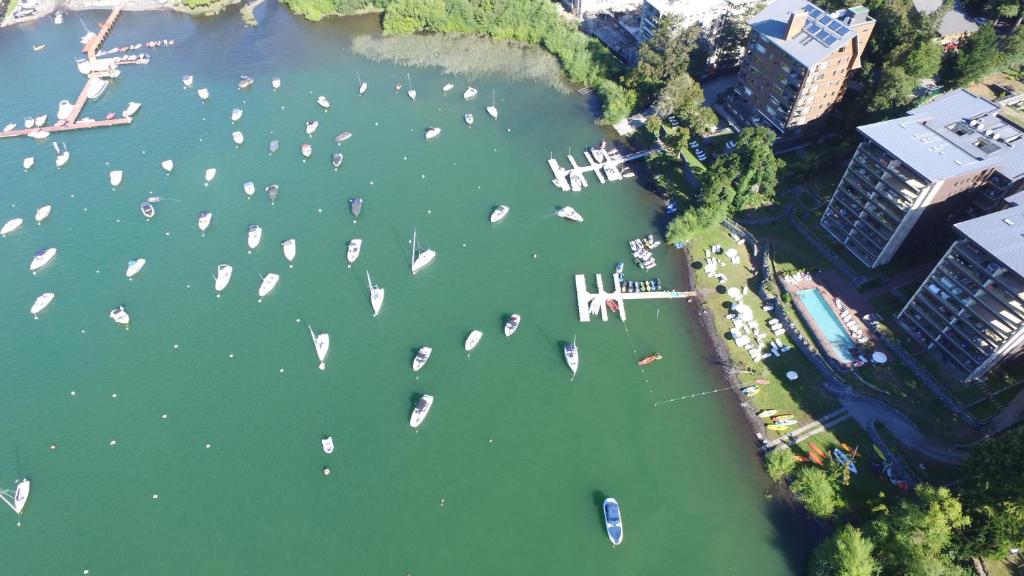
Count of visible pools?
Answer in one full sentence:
My tally gives 1 pool in this photo.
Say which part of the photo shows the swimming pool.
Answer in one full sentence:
The swimming pool is in the right part of the image.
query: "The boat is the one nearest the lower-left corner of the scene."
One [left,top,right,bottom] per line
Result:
[0,478,33,512]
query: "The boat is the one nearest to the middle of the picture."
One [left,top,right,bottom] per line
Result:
[505,309,523,335]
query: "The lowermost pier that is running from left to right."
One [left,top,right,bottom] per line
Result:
[575,274,694,323]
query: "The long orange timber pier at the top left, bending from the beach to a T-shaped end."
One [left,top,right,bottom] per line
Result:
[0,4,150,140]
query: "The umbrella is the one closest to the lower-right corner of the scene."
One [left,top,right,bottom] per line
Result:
[869,351,885,365]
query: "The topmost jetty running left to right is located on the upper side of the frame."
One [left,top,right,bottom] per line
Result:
[548,144,653,193]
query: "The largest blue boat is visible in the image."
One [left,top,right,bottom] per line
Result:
[603,496,622,544]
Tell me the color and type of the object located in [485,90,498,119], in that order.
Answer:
white boat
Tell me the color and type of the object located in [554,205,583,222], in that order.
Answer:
white boat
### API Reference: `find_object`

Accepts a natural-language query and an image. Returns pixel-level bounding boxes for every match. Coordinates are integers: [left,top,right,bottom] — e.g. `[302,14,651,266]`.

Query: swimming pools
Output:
[780,269,874,370]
